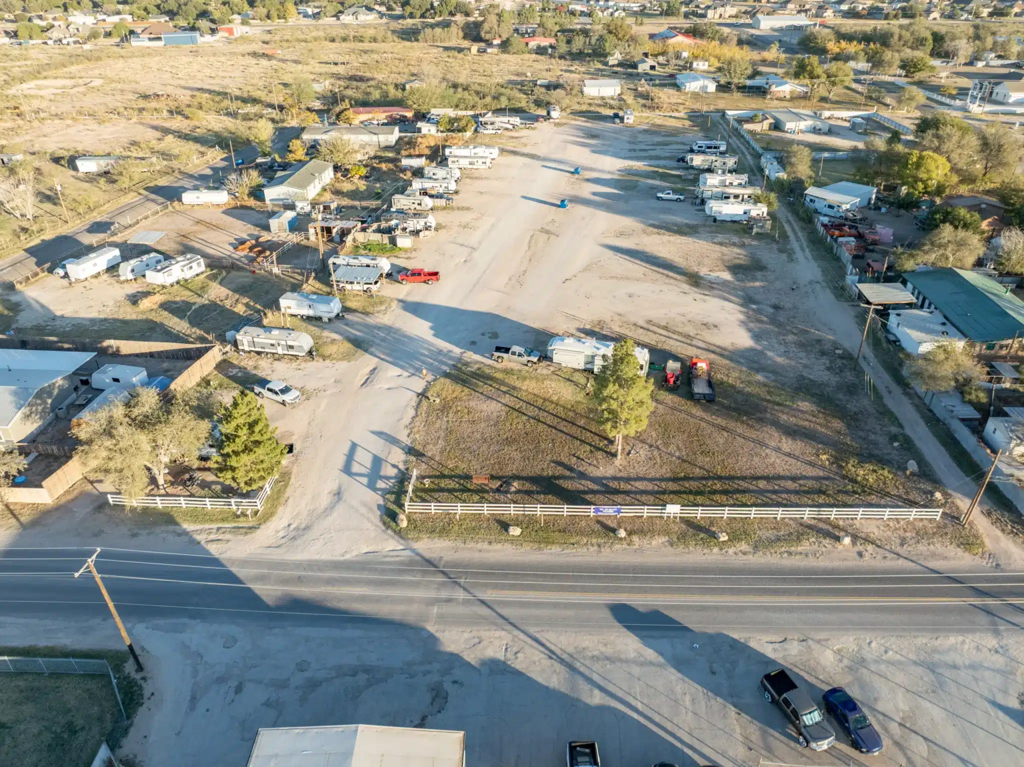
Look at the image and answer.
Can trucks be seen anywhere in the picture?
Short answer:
Yes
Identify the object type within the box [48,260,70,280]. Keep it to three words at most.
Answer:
car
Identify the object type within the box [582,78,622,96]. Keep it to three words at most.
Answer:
building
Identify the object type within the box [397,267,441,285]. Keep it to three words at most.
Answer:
vehicle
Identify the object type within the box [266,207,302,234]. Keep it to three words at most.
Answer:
shed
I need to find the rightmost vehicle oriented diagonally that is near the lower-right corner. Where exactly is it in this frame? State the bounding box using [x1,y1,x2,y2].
[819,684,887,761]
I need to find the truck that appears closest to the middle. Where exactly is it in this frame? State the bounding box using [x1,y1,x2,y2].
[490,343,543,366]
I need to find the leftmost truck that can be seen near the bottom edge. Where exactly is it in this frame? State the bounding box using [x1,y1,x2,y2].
[567,742,601,767]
